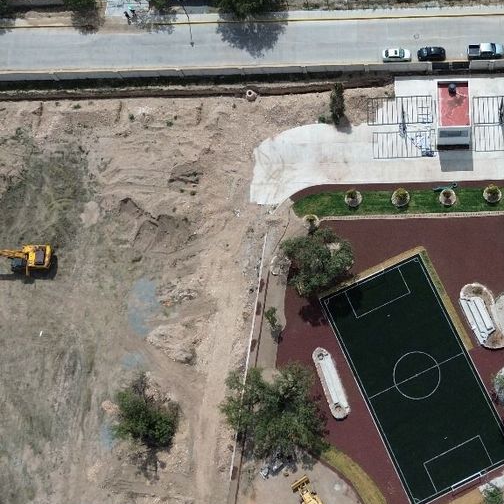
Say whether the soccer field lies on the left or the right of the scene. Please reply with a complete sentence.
The soccer field appears in the right half of the scene.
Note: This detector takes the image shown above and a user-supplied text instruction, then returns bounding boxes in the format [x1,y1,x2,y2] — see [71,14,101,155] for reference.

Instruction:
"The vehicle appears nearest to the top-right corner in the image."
[466,42,504,60]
